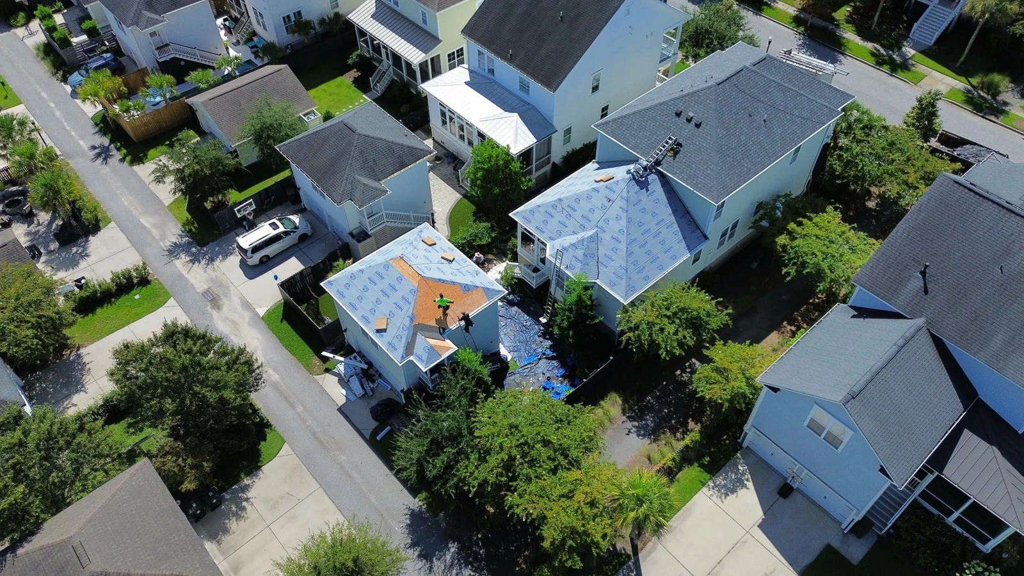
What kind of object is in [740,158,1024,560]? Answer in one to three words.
house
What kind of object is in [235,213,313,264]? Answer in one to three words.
car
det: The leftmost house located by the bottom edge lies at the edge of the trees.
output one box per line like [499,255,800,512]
[0,454,221,576]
